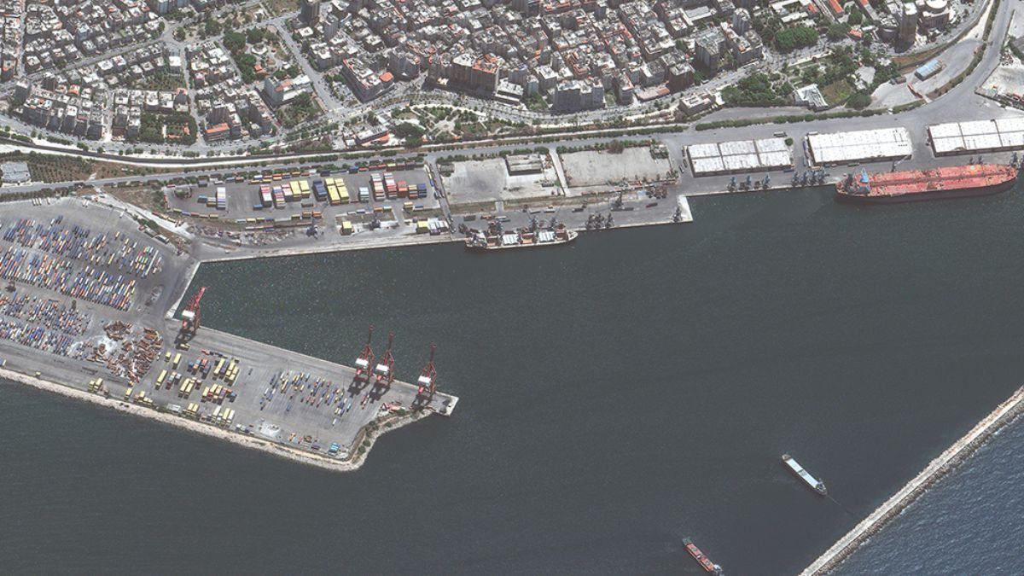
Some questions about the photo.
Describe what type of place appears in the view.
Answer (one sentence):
What you see here is a port.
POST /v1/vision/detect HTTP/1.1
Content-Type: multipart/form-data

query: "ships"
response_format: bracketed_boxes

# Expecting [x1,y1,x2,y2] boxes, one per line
[464,219,578,250]
[781,454,829,499]
[834,163,1018,203]
[683,540,726,576]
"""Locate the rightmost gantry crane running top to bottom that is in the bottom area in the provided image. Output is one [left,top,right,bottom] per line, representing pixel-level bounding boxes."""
[415,342,436,402]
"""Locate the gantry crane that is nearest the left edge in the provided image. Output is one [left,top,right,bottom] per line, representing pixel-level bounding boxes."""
[179,284,204,336]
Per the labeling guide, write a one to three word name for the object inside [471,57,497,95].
building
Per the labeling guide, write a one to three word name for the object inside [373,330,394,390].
container crane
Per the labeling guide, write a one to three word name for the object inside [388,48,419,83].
building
